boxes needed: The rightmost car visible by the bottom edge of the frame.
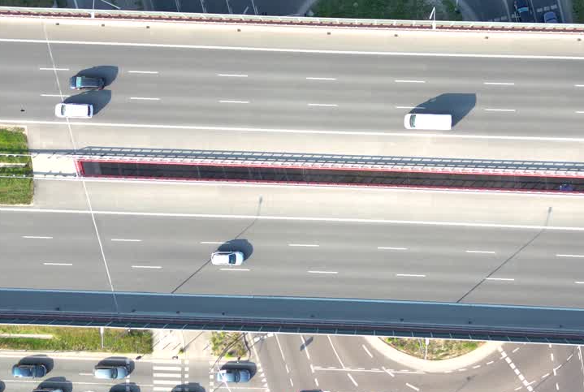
[218,368,251,384]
